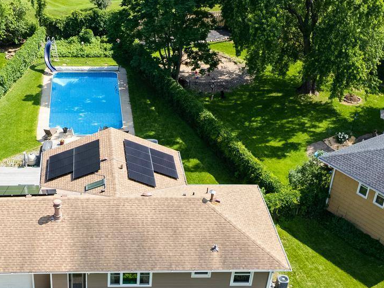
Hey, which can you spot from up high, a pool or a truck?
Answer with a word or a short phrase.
pool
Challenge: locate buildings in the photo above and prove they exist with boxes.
[0,127,294,288]
[317,134,384,241]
